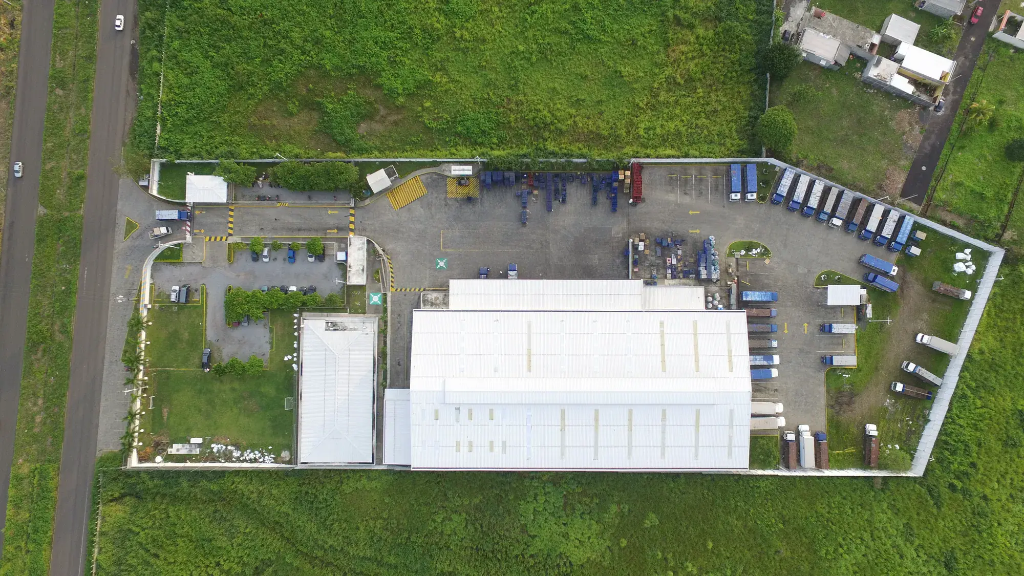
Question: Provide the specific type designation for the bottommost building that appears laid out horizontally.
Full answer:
Specifically, the bottommost building that appears laid out horizontally is a warehouse.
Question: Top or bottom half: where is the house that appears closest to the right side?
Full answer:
You can find the house that appears closest to the right side in the top half.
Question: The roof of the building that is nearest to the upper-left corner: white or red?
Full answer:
In this view, the roof of the building that is nearest to the upper-left corner is white.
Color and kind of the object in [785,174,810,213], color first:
white truck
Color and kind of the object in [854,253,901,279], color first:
blue truck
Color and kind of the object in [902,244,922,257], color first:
white vehicle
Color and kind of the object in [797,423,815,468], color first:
white vehicle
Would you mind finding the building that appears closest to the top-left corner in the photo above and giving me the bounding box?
[186,172,230,203]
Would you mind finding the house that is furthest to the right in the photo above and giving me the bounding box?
[992,11,1024,51]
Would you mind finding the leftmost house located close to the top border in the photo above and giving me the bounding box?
[793,28,851,73]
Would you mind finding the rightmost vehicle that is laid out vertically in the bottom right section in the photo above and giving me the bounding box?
[864,423,879,466]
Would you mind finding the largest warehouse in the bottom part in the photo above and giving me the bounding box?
[410,309,752,471]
